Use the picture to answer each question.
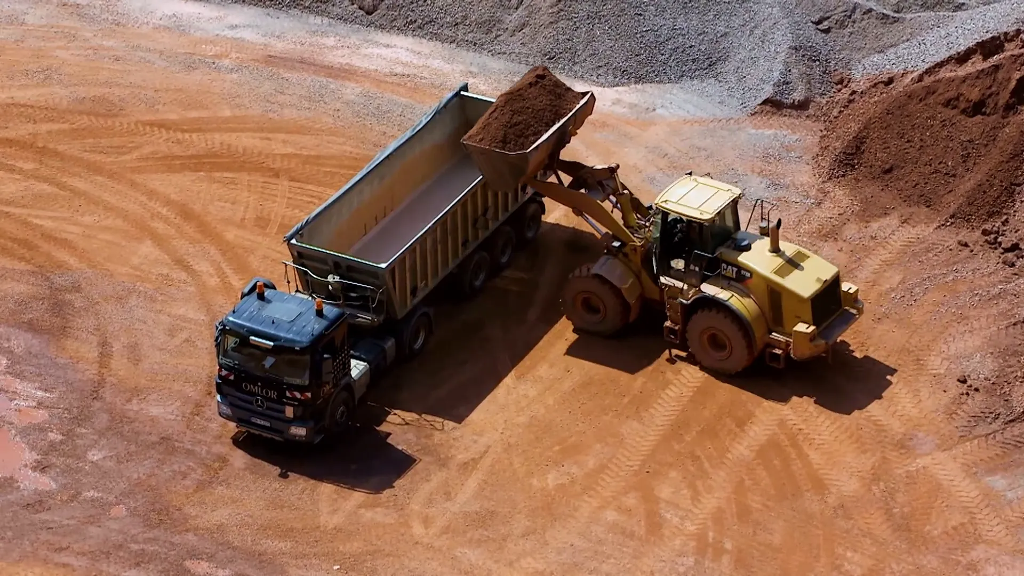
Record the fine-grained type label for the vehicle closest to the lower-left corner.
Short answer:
truck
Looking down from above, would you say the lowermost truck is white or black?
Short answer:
black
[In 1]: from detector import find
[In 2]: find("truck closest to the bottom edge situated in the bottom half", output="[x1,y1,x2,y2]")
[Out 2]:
[214,277,436,449]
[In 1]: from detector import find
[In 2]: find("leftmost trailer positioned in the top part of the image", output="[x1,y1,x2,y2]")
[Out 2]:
[276,83,552,331]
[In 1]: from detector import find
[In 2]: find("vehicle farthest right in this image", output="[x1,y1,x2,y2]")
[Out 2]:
[461,94,869,378]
